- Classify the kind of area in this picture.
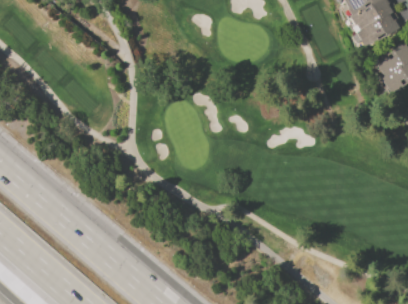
golf course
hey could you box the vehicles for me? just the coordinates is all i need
[148,274,158,282]
[0,176,10,184]
[74,228,84,236]
[72,290,83,301]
